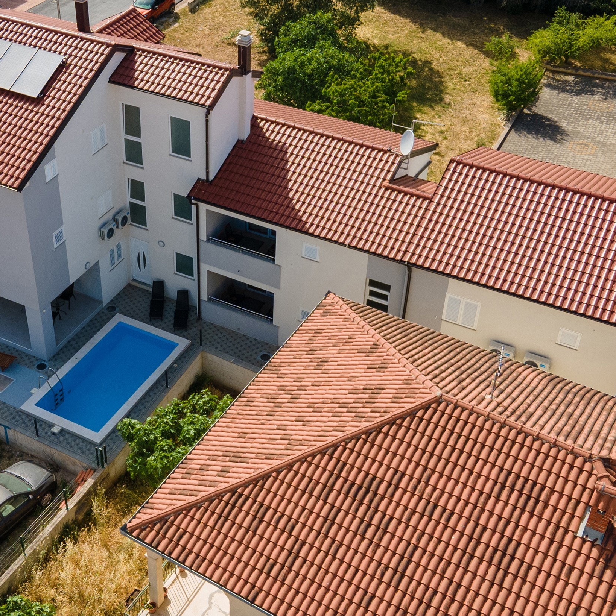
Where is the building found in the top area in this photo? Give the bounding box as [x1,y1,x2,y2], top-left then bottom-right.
[0,0,616,397]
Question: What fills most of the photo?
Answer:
buildings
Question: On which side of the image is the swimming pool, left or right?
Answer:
left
